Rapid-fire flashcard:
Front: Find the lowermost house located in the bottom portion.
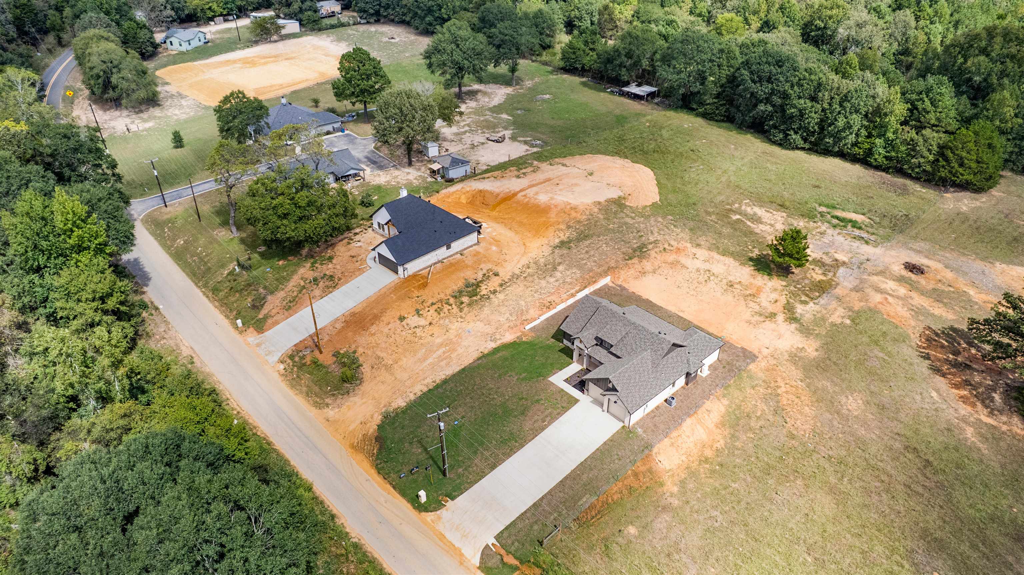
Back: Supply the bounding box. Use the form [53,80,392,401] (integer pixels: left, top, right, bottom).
[421,396,624,566]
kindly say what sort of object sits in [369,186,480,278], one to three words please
house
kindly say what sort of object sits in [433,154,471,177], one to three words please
shed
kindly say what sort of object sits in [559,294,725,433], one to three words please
house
